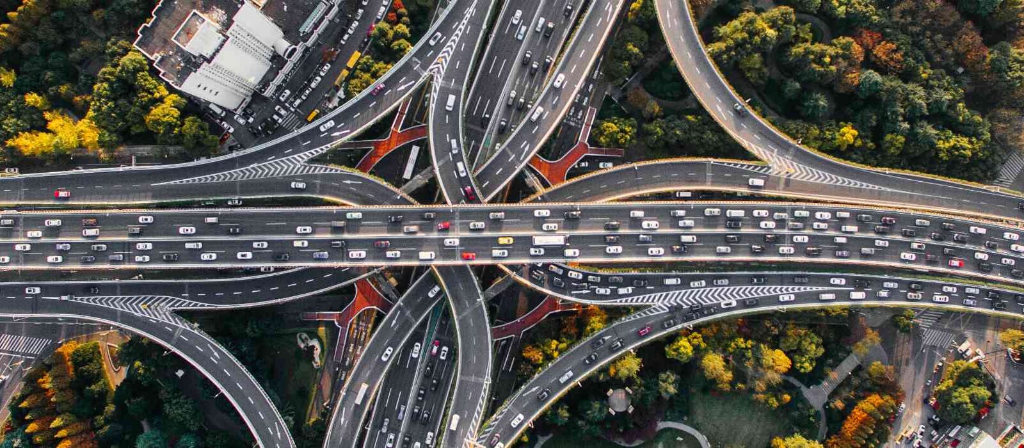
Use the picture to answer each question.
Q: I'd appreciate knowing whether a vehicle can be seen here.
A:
Yes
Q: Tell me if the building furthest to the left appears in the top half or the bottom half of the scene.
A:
top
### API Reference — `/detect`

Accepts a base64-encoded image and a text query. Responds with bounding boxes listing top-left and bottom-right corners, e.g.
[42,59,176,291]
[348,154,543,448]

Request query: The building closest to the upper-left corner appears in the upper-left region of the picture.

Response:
[130,0,345,113]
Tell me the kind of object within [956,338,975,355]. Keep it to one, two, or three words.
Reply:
vehicle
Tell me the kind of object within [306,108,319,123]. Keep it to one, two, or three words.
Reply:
vehicle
